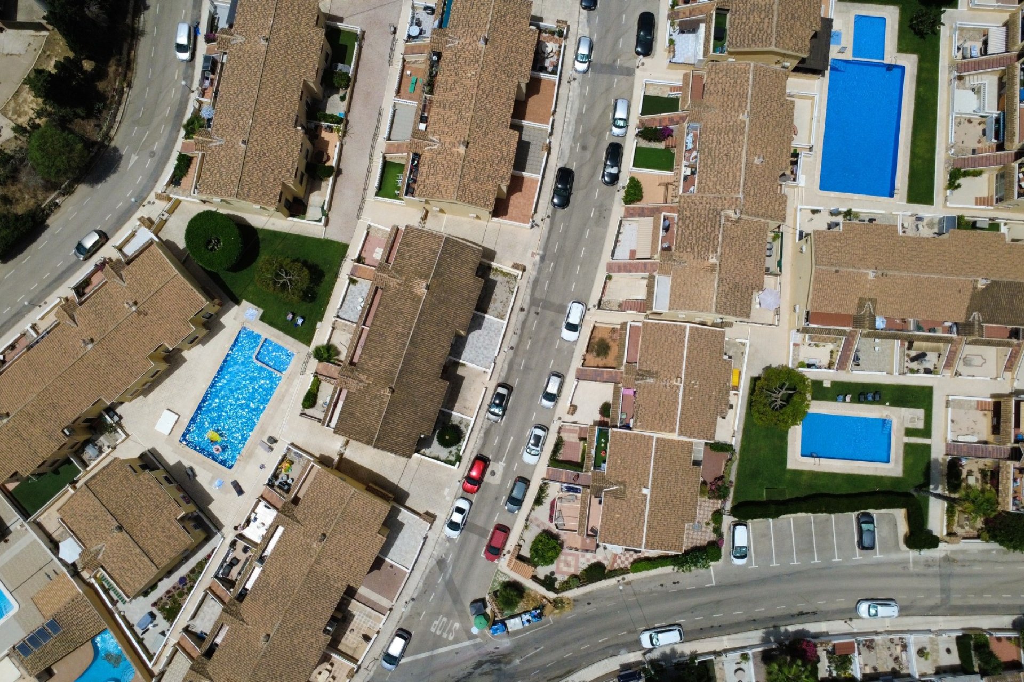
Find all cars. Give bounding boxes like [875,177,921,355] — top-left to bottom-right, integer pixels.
[640,624,683,649]
[580,0,598,10]
[601,142,623,186]
[728,521,751,564]
[855,598,898,620]
[74,228,111,262]
[173,23,195,62]
[552,167,573,209]
[521,423,549,464]
[382,627,412,671]
[487,382,512,422]
[462,453,492,494]
[561,300,585,342]
[855,512,877,550]
[503,475,530,513]
[573,36,594,74]
[634,12,656,57]
[484,523,511,562]
[610,98,630,137]
[539,371,564,409]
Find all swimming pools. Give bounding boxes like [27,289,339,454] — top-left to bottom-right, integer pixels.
[801,413,891,463]
[0,586,14,618]
[180,326,297,469]
[819,59,904,197]
[76,629,132,682]
[852,15,886,58]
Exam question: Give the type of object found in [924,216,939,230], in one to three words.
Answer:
umbrella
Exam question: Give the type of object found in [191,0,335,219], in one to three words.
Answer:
house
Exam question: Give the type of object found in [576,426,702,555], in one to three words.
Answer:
house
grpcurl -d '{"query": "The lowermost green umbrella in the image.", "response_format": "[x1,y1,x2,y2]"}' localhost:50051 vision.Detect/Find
[473,613,489,630]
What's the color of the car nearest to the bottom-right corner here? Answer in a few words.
white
